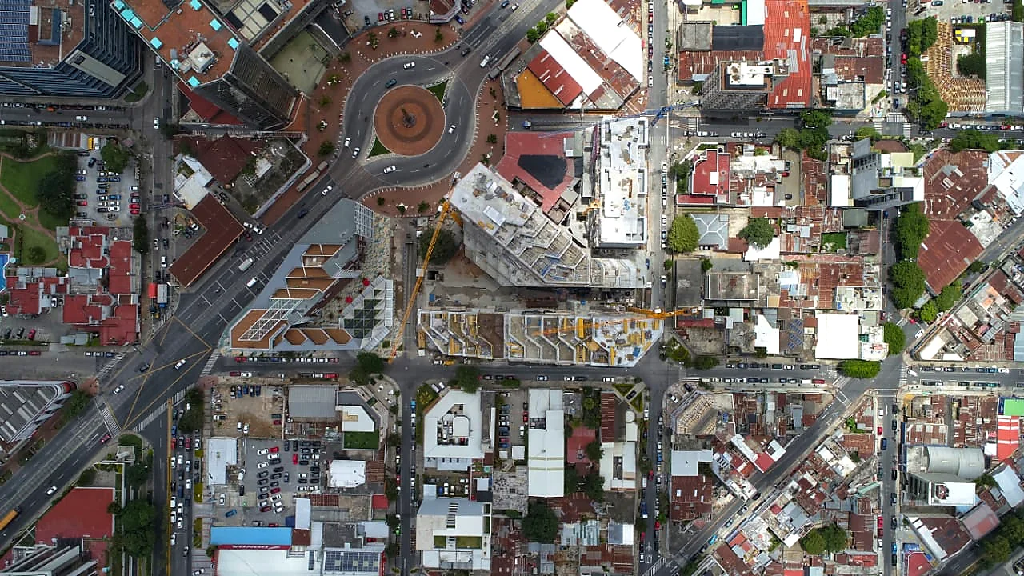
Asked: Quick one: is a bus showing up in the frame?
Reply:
Yes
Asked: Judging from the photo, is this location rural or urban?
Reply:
urban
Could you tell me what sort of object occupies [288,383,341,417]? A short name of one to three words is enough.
building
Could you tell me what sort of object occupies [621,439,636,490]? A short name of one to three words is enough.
house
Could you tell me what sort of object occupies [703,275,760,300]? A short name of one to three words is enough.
building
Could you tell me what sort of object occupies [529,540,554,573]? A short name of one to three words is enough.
shed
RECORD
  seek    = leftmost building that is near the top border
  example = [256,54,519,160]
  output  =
[0,0,141,97]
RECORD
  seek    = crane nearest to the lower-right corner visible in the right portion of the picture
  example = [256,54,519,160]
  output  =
[534,302,705,336]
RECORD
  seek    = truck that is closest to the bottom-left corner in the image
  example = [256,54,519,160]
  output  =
[0,507,23,530]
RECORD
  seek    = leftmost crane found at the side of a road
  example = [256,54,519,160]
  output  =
[388,168,466,362]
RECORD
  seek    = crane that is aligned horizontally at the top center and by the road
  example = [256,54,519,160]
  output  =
[538,98,701,139]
